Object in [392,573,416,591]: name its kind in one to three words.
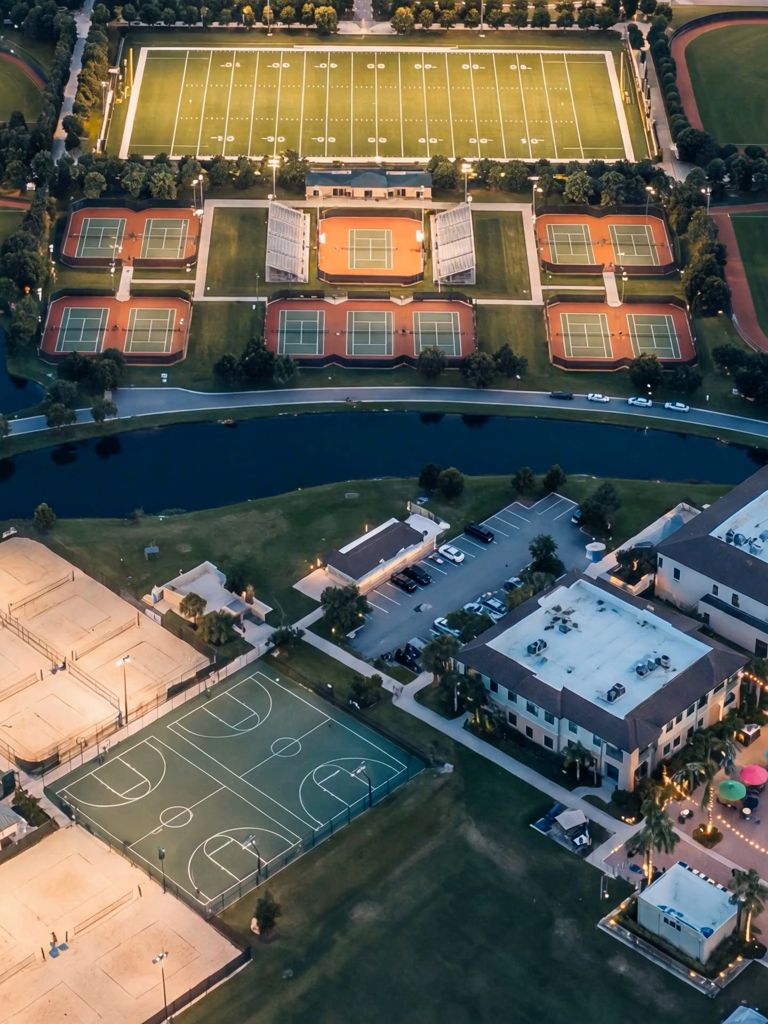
car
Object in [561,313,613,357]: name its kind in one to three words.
tennis court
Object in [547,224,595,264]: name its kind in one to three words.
tennis court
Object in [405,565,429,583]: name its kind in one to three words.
car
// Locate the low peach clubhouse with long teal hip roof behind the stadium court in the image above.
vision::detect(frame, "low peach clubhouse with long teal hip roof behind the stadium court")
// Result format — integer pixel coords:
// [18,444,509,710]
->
[304,165,434,204]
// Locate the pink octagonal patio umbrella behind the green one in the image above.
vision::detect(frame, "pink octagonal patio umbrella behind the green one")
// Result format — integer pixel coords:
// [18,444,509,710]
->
[740,768,767,789]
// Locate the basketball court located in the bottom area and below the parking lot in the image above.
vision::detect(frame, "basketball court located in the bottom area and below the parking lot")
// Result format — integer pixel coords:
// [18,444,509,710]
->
[45,663,426,916]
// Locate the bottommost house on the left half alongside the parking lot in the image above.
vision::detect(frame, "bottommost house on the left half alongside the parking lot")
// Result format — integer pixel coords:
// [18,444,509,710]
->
[143,563,273,632]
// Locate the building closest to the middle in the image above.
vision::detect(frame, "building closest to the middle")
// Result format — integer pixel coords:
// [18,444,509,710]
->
[325,513,445,593]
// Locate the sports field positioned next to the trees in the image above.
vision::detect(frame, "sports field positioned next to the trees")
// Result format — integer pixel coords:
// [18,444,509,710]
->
[128,50,625,158]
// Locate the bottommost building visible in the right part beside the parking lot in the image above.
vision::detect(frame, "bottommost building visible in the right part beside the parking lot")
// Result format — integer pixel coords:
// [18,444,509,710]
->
[454,570,768,786]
